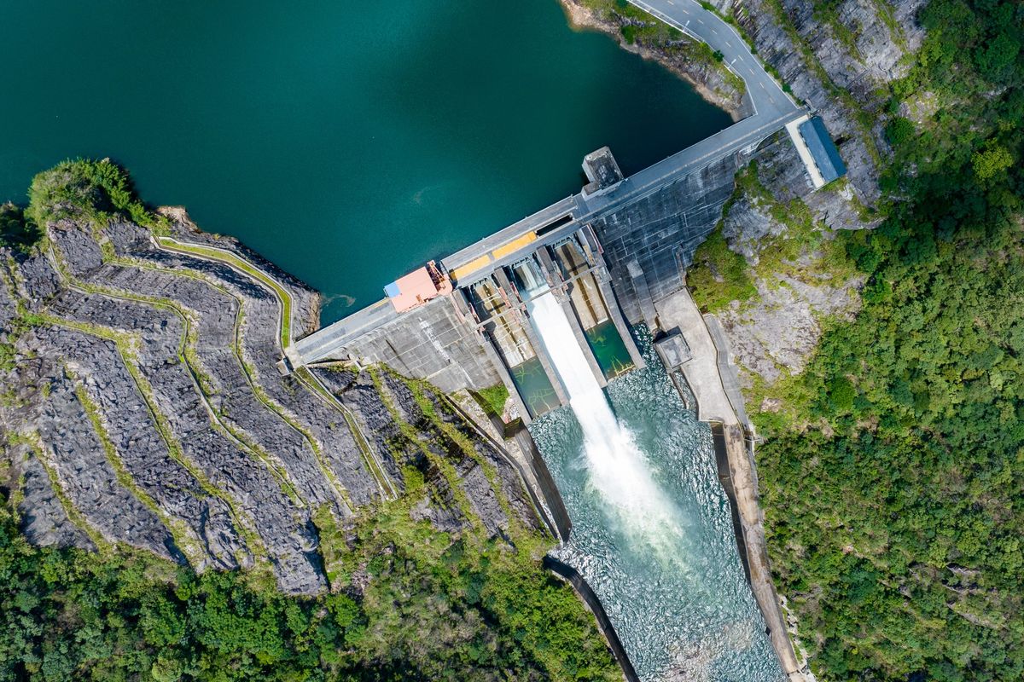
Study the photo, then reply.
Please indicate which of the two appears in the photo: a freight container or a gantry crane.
gantry crane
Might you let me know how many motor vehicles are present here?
0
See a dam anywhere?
Yes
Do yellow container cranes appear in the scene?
No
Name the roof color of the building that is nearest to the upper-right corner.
blue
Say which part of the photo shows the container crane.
center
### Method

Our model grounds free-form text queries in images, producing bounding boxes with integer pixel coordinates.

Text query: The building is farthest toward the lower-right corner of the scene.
[653,332,691,369]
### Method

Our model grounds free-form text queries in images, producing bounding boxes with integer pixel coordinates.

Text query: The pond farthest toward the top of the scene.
[0,0,737,334]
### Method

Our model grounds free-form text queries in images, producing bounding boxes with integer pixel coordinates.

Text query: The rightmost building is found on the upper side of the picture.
[785,114,845,189]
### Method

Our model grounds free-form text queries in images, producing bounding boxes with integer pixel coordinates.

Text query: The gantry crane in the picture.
[386,261,456,316]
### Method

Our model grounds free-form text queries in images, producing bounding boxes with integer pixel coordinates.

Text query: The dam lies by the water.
[292,110,799,421]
